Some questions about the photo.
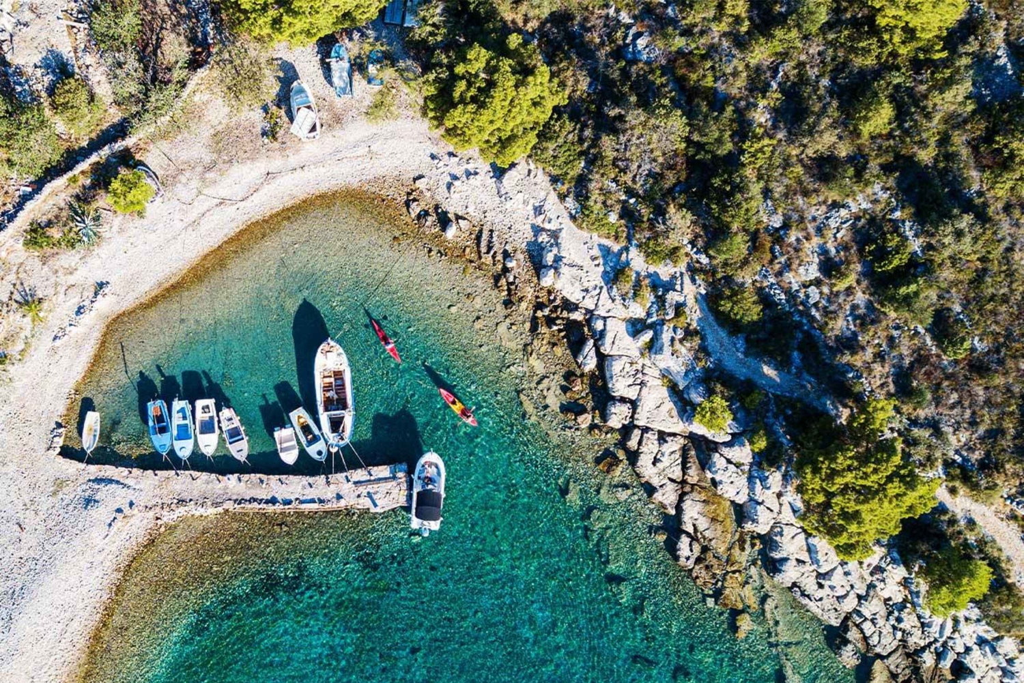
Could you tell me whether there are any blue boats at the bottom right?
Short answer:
No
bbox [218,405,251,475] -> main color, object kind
white boat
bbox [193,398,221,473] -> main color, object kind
white boat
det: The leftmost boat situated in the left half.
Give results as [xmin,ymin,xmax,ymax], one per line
[83,411,104,463]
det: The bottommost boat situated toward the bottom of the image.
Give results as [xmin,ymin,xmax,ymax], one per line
[408,451,446,539]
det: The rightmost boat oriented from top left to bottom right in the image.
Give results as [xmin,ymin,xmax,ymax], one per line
[439,388,477,427]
